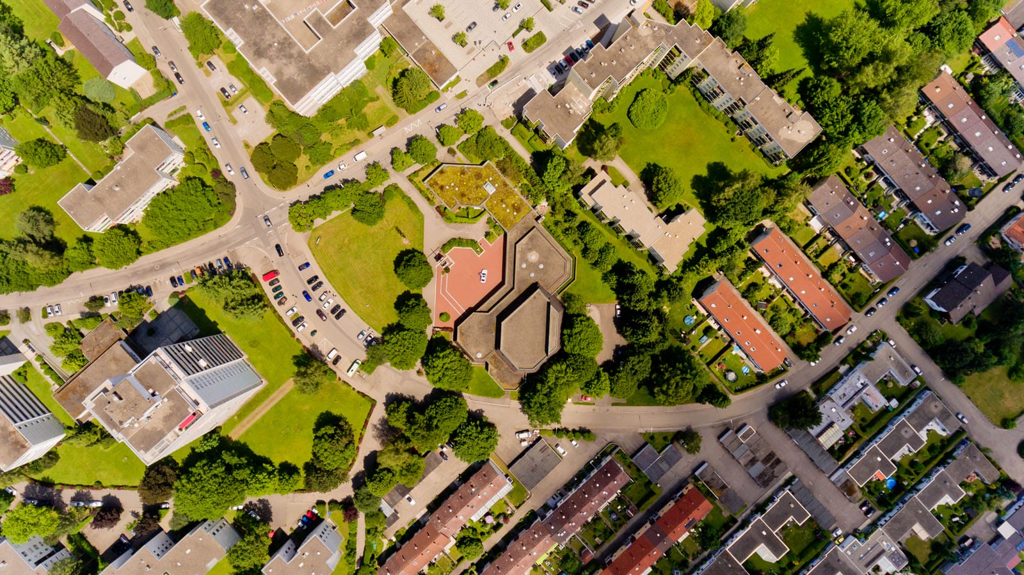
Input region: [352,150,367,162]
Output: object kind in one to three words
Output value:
vehicle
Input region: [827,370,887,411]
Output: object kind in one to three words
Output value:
house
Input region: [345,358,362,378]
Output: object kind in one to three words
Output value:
vehicle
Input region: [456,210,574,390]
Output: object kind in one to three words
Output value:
building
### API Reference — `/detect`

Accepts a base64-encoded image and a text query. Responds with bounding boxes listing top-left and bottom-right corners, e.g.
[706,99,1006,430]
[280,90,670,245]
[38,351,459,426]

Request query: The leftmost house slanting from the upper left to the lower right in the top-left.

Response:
[59,8,145,87]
